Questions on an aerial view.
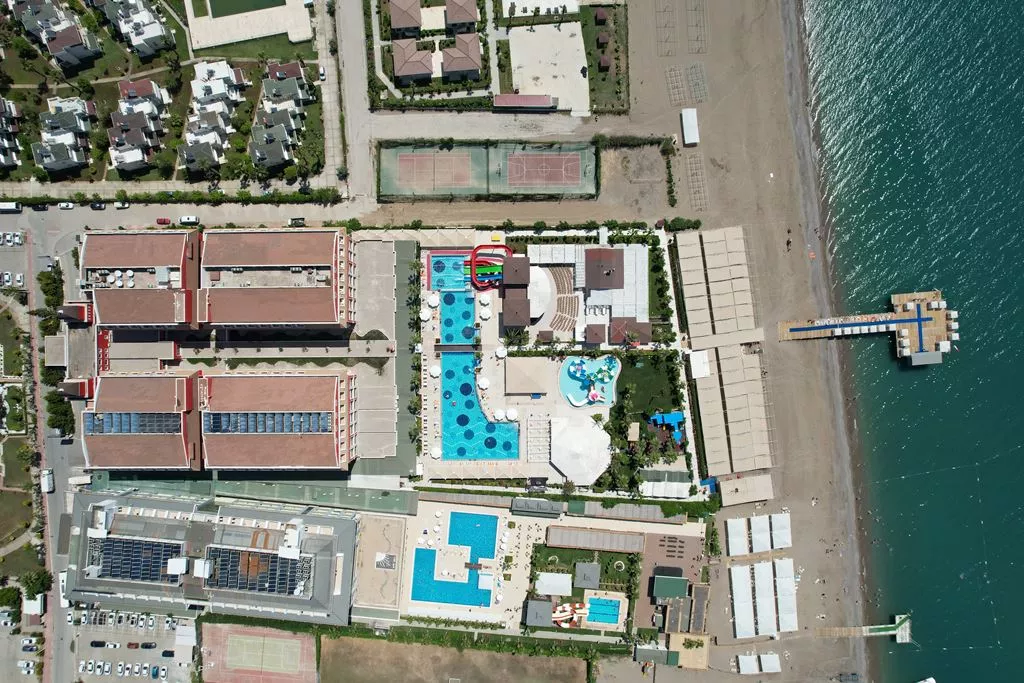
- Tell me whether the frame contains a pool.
Yes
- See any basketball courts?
Yes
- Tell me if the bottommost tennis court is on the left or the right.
left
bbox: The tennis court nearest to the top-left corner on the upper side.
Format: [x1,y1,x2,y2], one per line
[381,147,487,195]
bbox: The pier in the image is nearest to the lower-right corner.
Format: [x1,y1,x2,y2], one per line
[815,614,921,648]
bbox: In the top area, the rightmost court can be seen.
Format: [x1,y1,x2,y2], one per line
[488,147,596,195]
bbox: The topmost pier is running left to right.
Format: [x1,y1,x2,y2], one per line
[779,291,949,357]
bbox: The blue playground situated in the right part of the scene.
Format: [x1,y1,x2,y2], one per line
[651,411,684,451]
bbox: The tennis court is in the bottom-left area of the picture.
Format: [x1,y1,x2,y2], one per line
[202,624,317,683]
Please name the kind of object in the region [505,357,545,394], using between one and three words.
building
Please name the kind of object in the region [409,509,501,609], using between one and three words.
swimming pool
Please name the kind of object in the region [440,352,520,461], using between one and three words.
swimming pool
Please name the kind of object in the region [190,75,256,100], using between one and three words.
house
